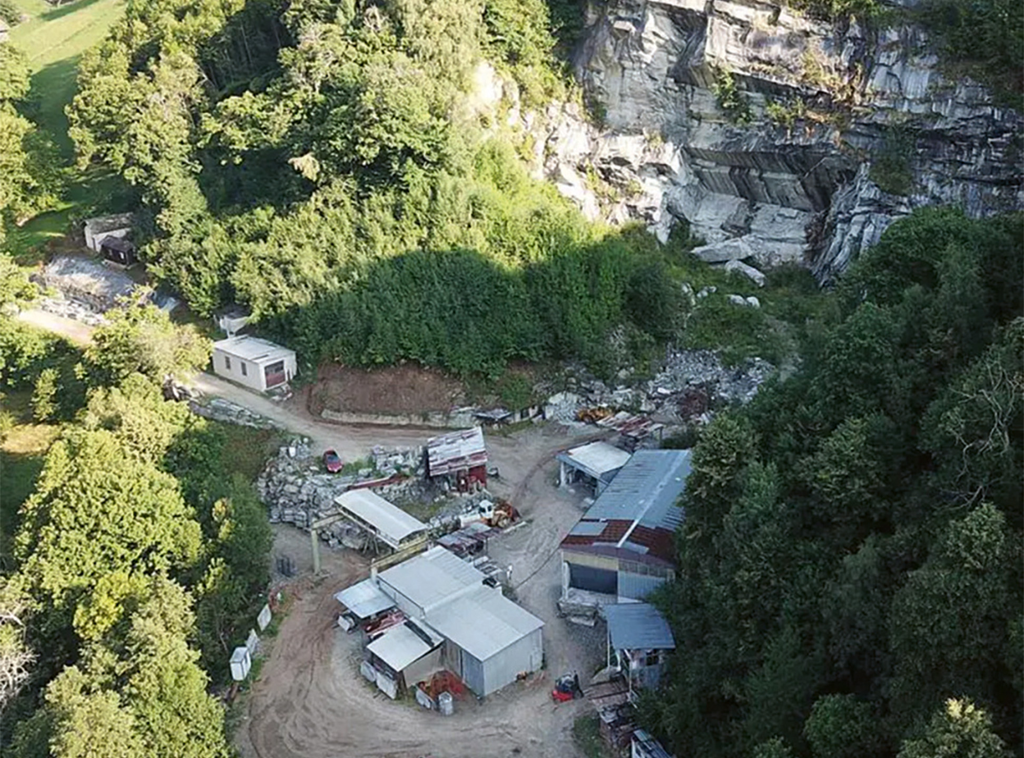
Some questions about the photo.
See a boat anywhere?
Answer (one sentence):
No, the photo shows no boat.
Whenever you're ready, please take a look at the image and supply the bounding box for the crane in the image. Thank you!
[309,490,444,614]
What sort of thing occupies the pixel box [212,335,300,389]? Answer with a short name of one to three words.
building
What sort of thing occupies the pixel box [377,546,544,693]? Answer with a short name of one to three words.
building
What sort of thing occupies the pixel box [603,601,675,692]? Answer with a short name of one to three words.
shed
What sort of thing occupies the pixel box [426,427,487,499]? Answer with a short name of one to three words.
shed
